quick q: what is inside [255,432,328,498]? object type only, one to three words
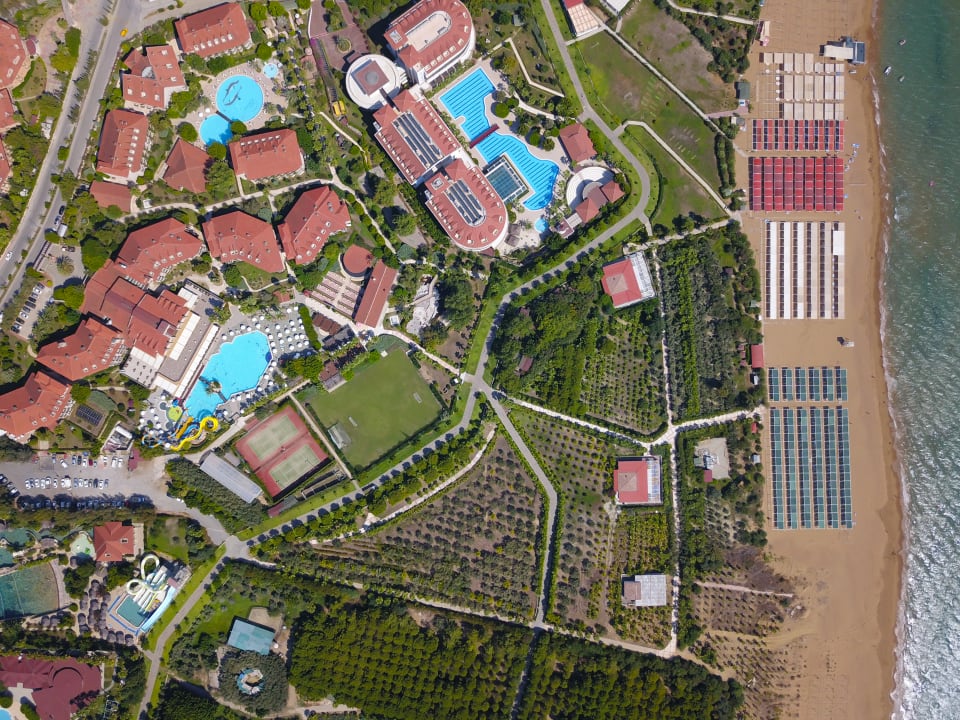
tennis court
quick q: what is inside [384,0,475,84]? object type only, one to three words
building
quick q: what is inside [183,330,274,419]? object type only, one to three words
swimming pool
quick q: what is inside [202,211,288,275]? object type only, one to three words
house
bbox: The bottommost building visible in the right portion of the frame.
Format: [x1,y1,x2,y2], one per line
[622,572,667,607]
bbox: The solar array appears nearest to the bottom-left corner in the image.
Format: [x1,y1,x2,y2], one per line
[76,405,103,426]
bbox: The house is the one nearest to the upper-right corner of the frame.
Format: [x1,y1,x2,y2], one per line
[849,42,865,67]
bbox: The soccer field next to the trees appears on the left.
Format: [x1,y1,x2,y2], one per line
[312,351,442,470]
